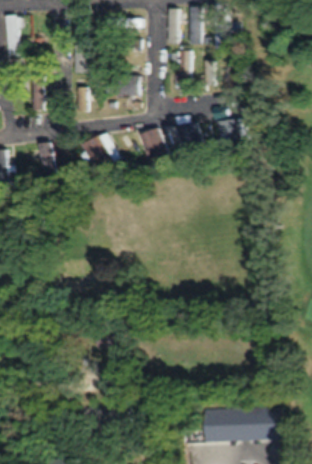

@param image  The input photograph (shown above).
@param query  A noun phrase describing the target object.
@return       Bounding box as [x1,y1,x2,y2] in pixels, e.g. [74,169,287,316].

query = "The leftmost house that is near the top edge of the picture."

[4,14,24,50]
